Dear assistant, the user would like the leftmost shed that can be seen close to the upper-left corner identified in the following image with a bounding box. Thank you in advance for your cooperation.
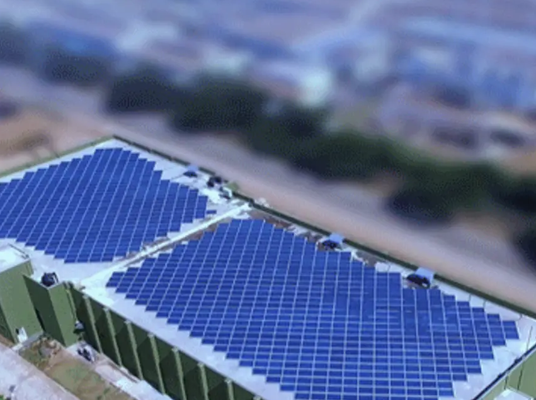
[35,19,131,60]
